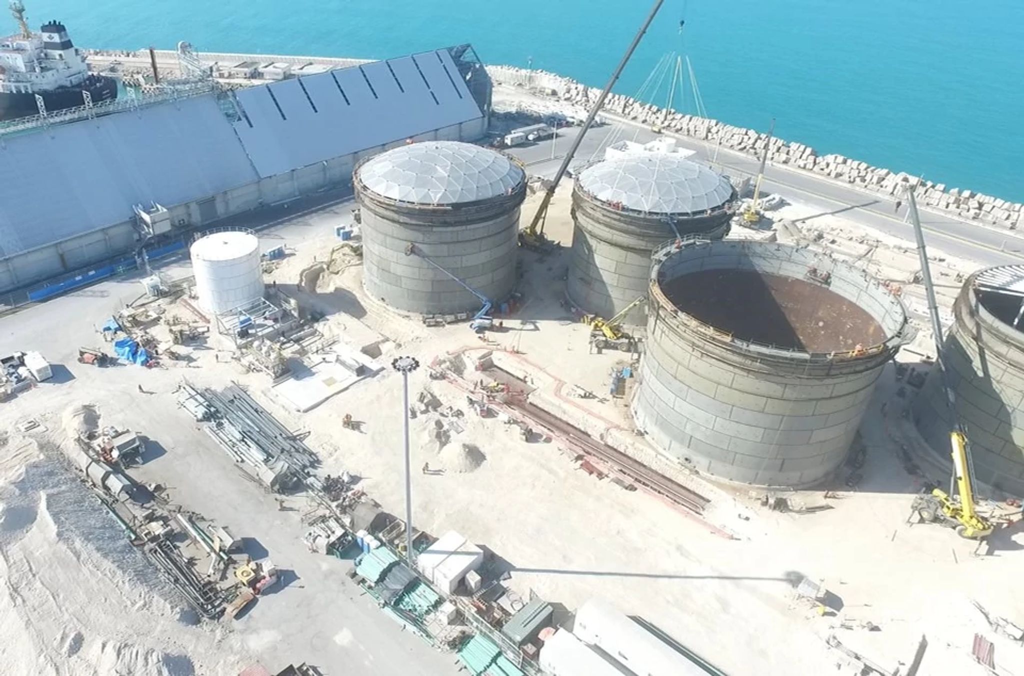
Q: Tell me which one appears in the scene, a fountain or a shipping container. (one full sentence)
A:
It is a shipping container that can be seen here.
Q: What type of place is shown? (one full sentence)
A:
This image shows an industrial area.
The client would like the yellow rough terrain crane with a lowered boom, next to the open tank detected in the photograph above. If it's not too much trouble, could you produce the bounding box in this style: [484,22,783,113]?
[585,297,646,363]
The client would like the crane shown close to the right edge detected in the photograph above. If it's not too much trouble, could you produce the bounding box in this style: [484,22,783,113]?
[896,179,1015,571]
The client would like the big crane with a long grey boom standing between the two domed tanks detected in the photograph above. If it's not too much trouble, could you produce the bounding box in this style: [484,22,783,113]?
[520,0,683,261]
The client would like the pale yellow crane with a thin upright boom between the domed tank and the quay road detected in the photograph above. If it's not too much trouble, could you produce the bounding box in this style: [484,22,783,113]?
[735,118,776,230]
